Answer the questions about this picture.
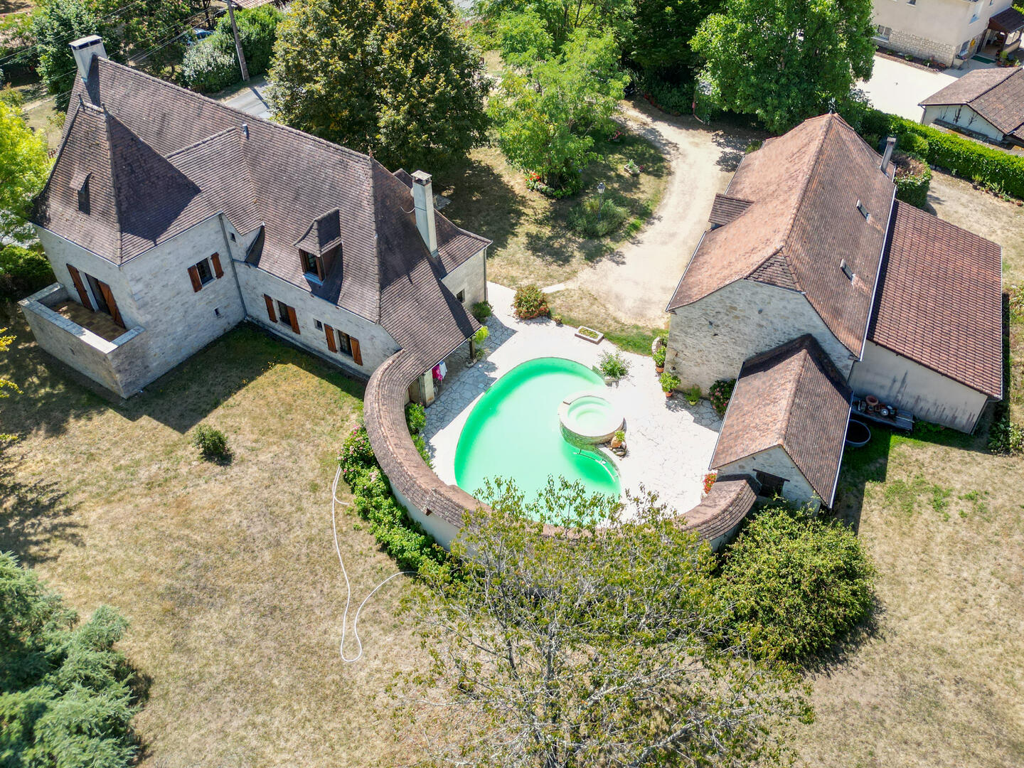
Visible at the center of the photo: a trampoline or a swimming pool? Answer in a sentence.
You can see a swimming pool at the center of the photo.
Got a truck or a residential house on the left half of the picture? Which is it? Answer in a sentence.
What appears on the left half of the picture is a residential house.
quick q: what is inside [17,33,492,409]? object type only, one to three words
house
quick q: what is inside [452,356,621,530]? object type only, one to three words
swimming pool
